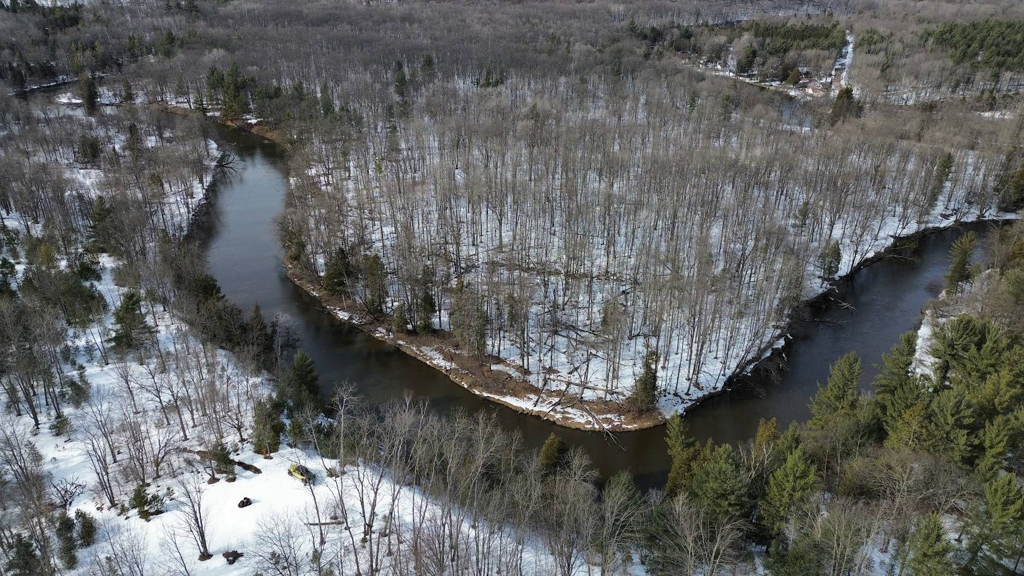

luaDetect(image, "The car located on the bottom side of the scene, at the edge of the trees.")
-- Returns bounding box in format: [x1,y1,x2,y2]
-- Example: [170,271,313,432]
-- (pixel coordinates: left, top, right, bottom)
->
[287,464,315,484]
